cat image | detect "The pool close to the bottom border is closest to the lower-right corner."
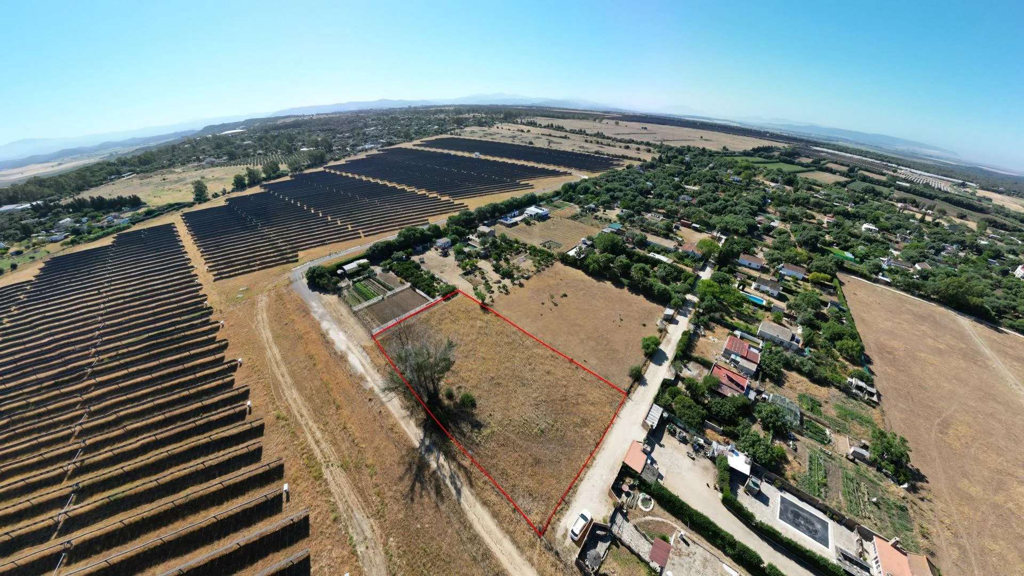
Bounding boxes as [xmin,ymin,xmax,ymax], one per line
[777,491,832,553]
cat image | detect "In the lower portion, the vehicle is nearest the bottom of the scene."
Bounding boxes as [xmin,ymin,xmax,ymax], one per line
[568,508,594,544]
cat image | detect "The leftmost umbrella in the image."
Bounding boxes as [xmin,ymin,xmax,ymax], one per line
[581,545,609,576]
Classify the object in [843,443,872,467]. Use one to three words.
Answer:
shed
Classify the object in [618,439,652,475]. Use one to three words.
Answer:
shed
